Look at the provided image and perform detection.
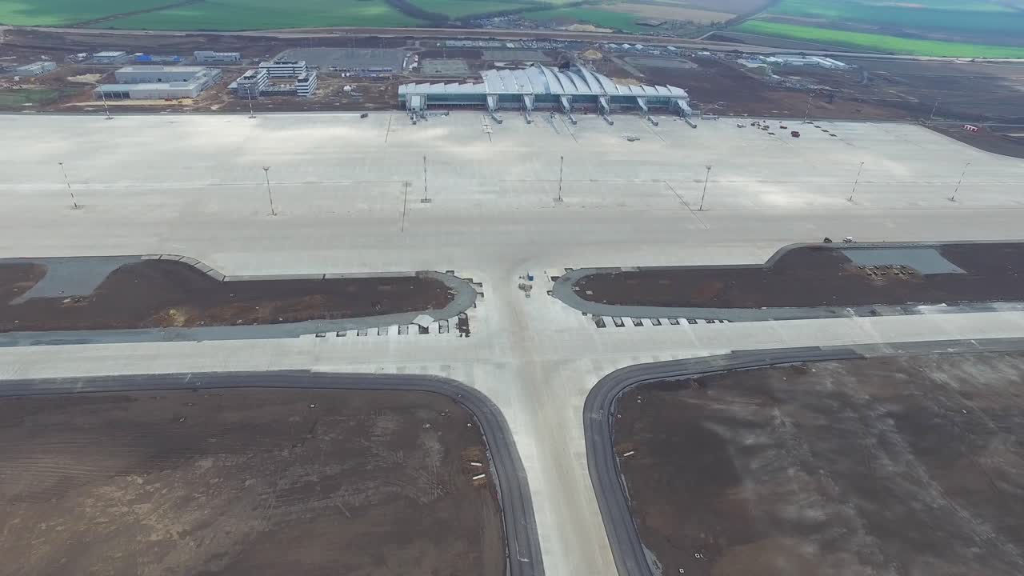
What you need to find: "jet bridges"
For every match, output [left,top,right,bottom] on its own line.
[522,97,532,125]
[597,98,613,126]
[410,95,425,127]
[675,98,696,129]
[486,96,503,125]
[558,97,576,126]
[636,99,658,126]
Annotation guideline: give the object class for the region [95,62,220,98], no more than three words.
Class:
building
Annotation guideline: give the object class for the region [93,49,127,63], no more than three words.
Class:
building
